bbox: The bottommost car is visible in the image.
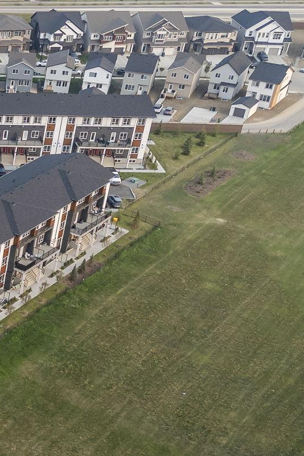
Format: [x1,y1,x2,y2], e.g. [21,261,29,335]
[107,195,123,208]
